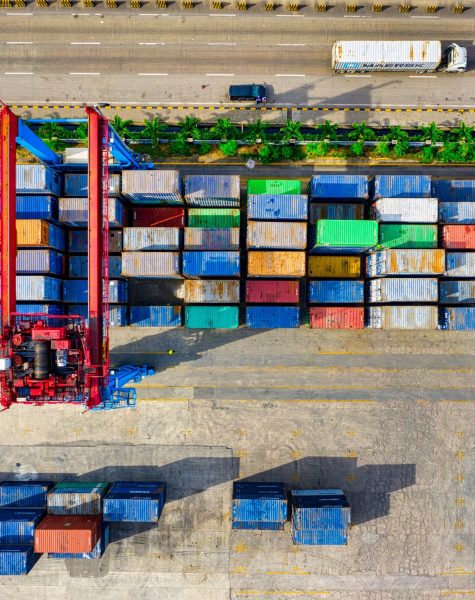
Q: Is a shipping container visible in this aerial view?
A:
Yes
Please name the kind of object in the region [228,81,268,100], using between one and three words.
car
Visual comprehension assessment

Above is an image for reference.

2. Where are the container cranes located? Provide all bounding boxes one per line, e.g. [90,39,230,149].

[0,94,158,416]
